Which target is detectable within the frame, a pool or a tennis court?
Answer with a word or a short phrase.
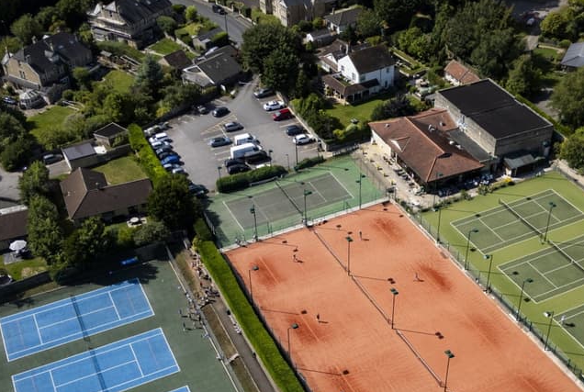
tennis court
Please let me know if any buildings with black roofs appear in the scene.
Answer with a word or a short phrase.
Yes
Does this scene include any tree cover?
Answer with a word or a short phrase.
Yes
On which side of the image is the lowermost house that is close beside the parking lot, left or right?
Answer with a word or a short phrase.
left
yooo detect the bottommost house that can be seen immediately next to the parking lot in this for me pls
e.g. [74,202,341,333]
[60,166,154,226]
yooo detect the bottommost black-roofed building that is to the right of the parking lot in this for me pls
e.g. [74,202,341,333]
[438,79,553,179]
